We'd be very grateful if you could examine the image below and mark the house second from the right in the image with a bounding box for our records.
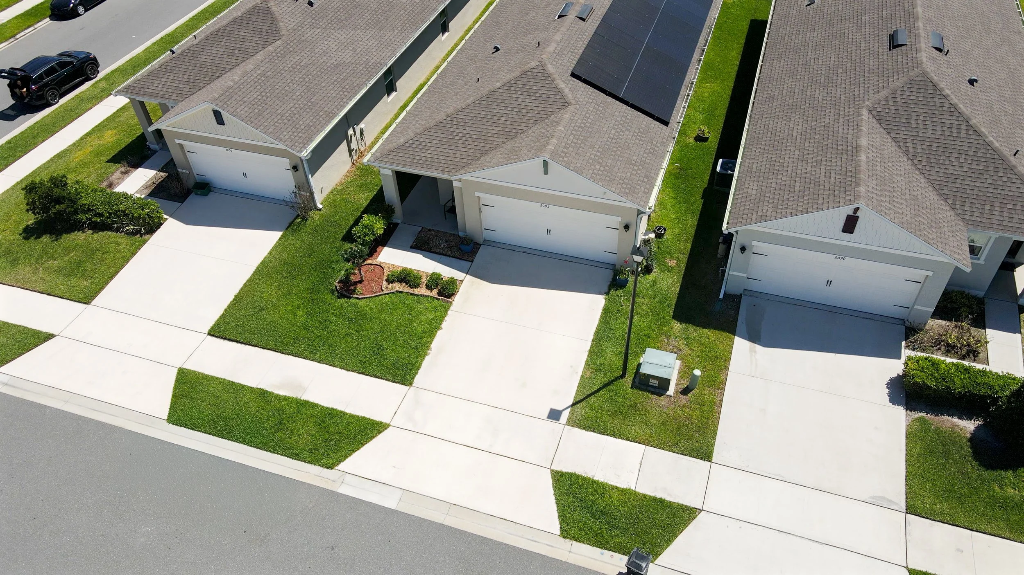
[359,0,719,277]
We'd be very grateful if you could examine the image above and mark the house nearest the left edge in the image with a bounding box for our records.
[111,0,475,216]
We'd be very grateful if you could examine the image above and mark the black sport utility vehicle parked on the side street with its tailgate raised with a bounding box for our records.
[0,46,100,105]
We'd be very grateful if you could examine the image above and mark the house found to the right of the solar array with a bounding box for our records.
[718,0,1024,328]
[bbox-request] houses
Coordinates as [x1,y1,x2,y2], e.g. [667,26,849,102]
[359,0,719,277]
[718,0,1024,328]
[111,0,475,216]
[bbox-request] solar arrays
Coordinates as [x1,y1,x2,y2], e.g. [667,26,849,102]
[573,0,715,131]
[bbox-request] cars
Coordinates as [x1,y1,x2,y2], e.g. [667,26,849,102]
[0,46,100,105]
[45,0,97,15]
